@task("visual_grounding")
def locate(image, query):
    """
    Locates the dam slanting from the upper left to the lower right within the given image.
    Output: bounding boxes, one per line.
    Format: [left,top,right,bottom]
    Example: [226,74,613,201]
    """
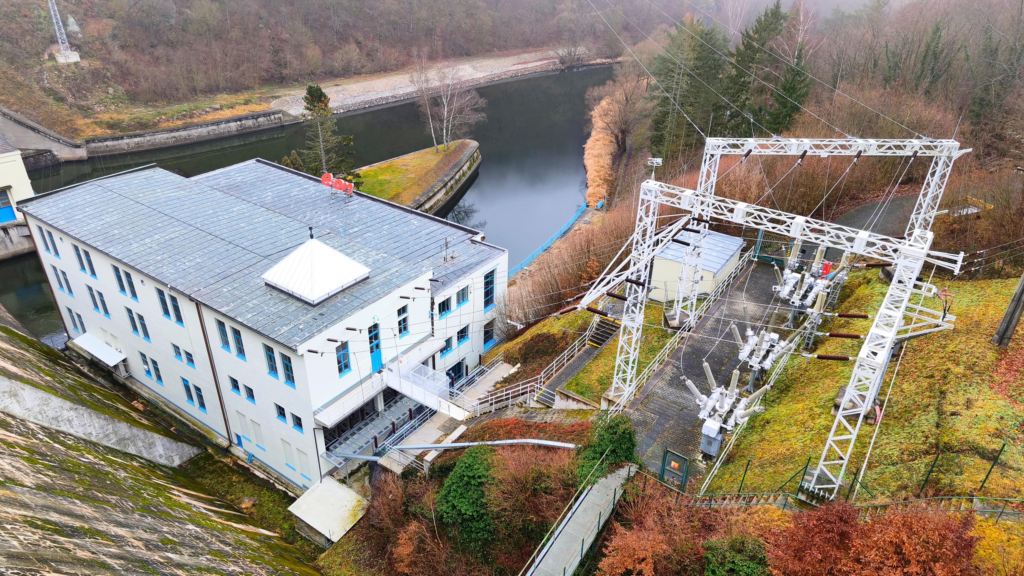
[0,304,326,576]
